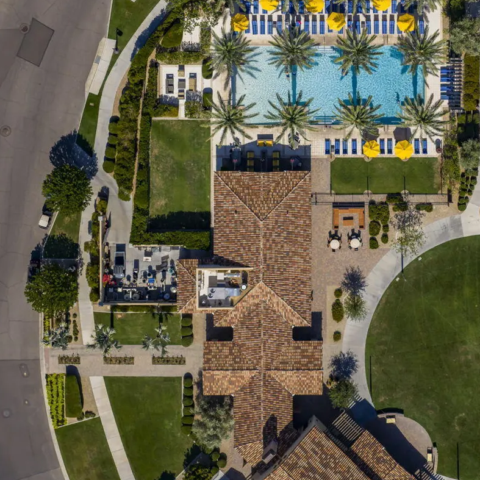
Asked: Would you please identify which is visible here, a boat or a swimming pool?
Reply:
swimming pool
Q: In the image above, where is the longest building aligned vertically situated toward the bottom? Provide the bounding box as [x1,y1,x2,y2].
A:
[176,169,323,467]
